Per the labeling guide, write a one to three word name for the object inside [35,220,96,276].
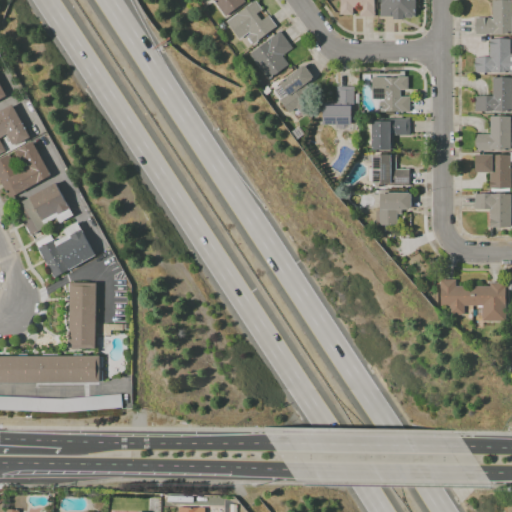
building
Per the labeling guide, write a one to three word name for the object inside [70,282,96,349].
building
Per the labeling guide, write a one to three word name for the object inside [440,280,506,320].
house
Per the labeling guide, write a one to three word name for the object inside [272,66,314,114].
house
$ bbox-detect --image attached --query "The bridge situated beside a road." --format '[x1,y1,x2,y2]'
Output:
[262,428,494,486]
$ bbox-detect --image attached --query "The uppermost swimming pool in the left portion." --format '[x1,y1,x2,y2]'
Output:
[102,334,126,378]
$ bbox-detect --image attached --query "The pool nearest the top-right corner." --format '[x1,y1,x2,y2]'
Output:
[362,74,380,112]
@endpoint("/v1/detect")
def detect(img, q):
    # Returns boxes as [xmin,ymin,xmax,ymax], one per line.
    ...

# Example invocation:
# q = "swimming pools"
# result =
[58,496,98,512]
[362,74,380,112]
[346,162,372,186]
[102,334,126,378]
[328,136,356,178]
[26,494,50,512]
